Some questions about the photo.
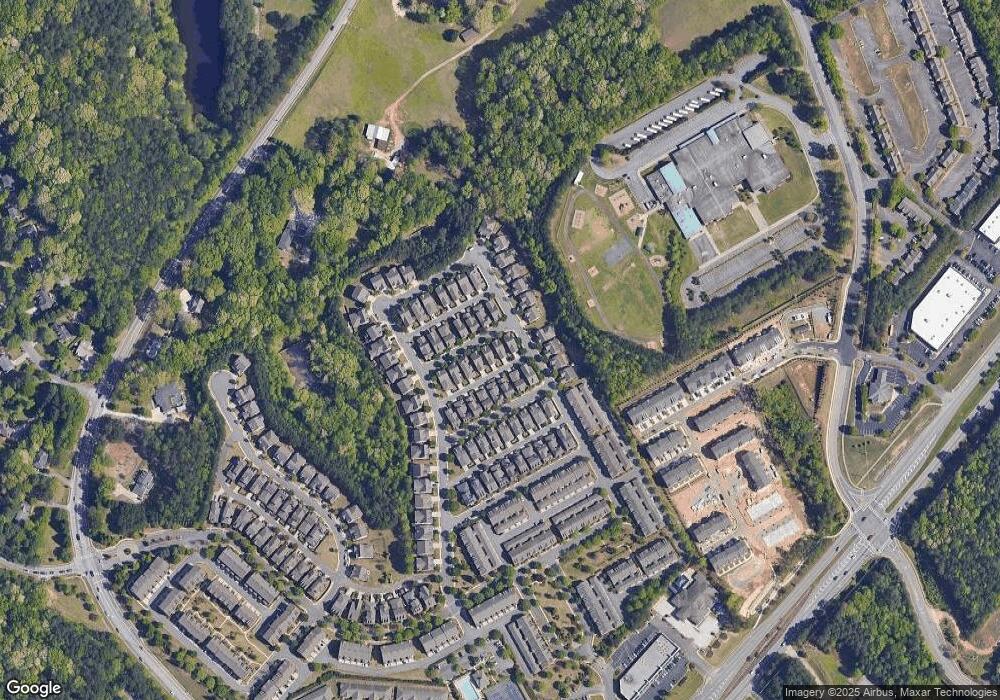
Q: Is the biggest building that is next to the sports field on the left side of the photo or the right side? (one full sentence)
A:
The biggest building that is next to the sports field appears in the right half of the scene.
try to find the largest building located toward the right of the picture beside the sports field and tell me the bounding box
[646,114,791,238]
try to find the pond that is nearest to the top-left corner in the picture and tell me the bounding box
[171,0,226,121]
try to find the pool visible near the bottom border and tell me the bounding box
[452,672,484,700]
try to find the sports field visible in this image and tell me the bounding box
[564,189,666,346]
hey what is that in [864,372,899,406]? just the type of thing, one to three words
building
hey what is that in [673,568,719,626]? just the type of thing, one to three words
building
